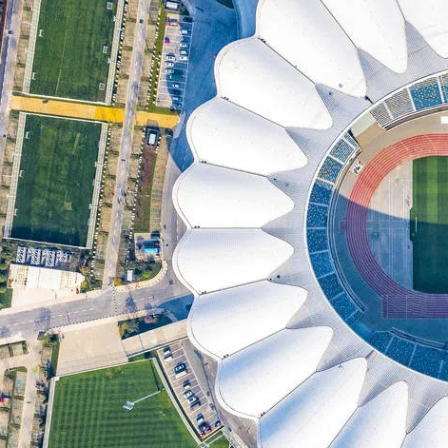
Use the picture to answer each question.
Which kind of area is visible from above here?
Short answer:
sports ground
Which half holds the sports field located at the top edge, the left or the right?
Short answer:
left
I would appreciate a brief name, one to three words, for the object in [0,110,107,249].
sports field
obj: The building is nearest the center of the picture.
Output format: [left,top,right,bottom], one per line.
[139,236,162,255]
